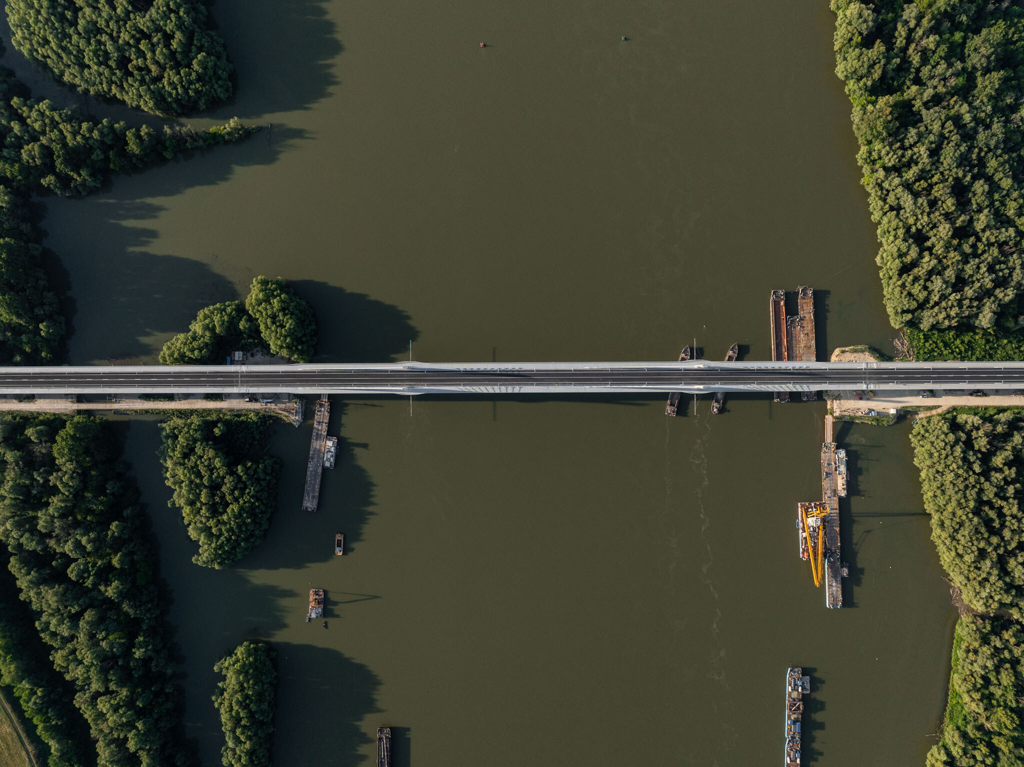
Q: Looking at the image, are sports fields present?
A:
No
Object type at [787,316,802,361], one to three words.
ship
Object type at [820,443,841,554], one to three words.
pier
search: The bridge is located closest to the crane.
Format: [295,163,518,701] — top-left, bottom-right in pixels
[0,360,1024,396]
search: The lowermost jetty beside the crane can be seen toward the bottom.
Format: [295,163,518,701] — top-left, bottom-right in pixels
[824,555,842,608]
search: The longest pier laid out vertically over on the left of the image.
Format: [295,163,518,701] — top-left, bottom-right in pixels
[303,399,330,512]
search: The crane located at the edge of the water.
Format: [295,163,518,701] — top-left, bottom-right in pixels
[802,506,829,587]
